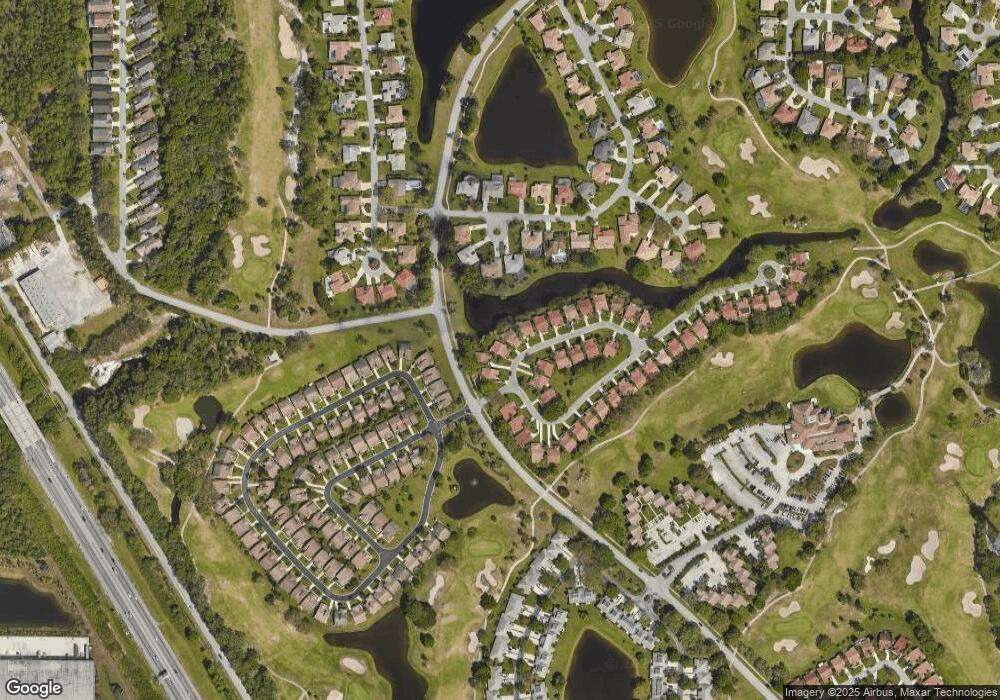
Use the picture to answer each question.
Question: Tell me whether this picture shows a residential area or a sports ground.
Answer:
residential area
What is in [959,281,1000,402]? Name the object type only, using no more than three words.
pond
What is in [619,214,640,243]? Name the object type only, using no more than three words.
house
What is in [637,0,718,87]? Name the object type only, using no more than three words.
pond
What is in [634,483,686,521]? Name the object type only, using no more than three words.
building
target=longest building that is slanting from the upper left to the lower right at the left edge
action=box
[18,268,71,334]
